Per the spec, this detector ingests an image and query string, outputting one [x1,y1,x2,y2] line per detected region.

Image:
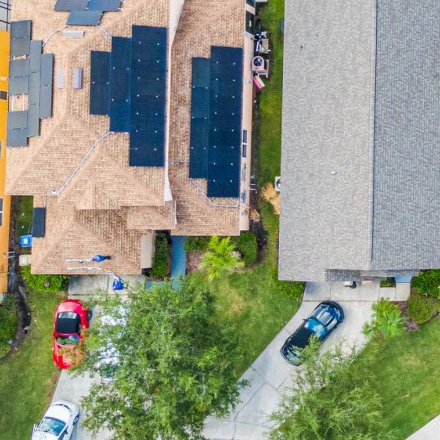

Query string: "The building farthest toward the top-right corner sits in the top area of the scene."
[277,0,440,282]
